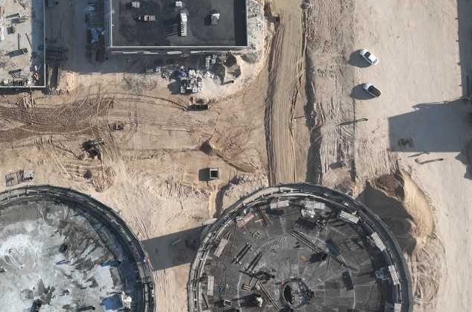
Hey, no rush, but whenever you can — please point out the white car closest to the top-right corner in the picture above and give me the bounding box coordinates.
[358,47,381,67]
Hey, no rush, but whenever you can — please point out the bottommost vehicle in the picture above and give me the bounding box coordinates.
[361,82,385,100]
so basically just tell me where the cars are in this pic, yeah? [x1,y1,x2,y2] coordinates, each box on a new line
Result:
[361,82,385,100]
[358,47,381,67]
